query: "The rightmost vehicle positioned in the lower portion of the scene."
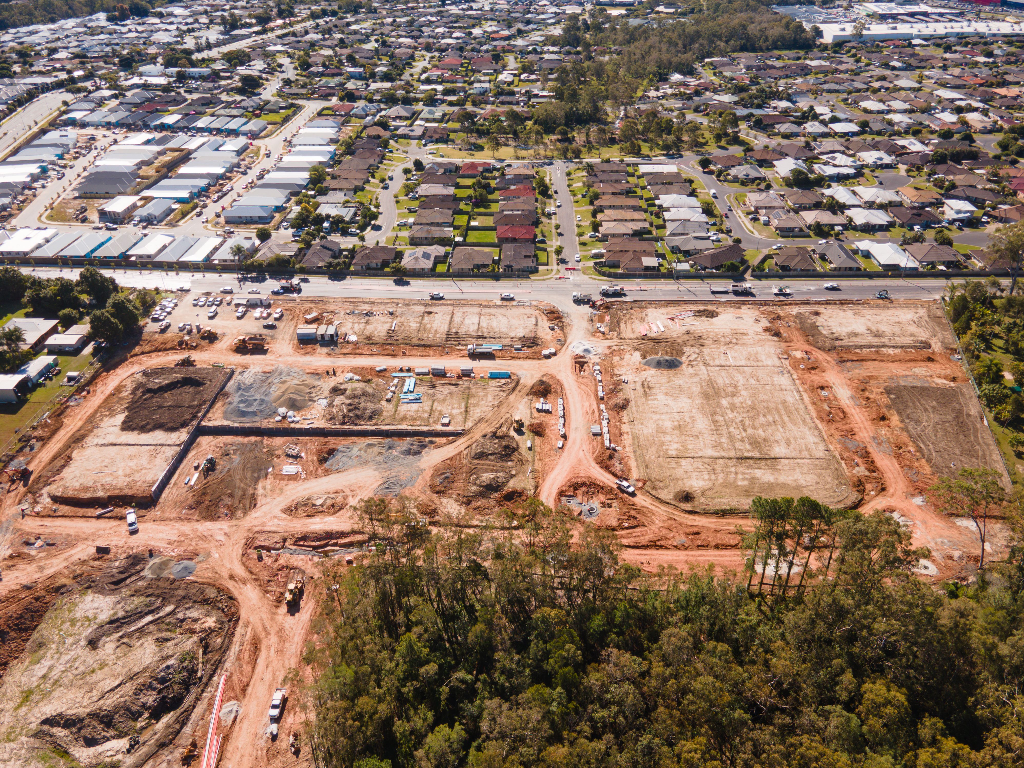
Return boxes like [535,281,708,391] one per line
[613,477,637,493]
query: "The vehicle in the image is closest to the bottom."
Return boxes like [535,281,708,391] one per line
[266,687,289,719]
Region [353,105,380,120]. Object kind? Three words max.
house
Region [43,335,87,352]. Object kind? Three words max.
shed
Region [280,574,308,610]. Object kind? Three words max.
work vehicle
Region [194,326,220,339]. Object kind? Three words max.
vehicle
